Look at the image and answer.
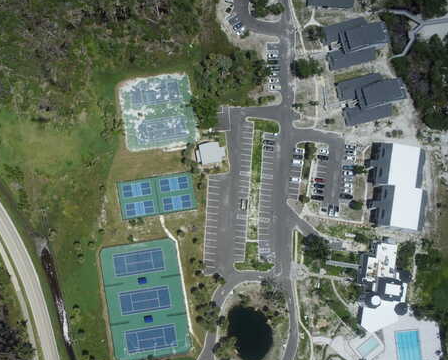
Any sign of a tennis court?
Yes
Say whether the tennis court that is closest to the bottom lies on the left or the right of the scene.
left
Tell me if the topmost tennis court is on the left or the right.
left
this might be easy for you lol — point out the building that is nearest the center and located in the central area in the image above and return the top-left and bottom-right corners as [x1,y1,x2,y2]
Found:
[194,141,226,165]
